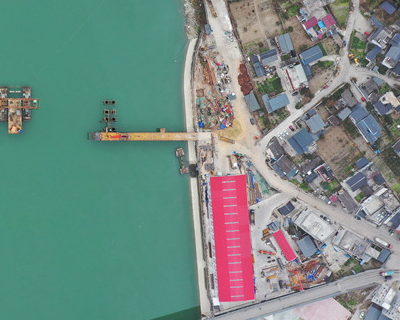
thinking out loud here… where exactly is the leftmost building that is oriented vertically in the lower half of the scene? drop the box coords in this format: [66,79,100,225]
[205,174,255,302]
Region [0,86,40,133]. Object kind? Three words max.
ship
